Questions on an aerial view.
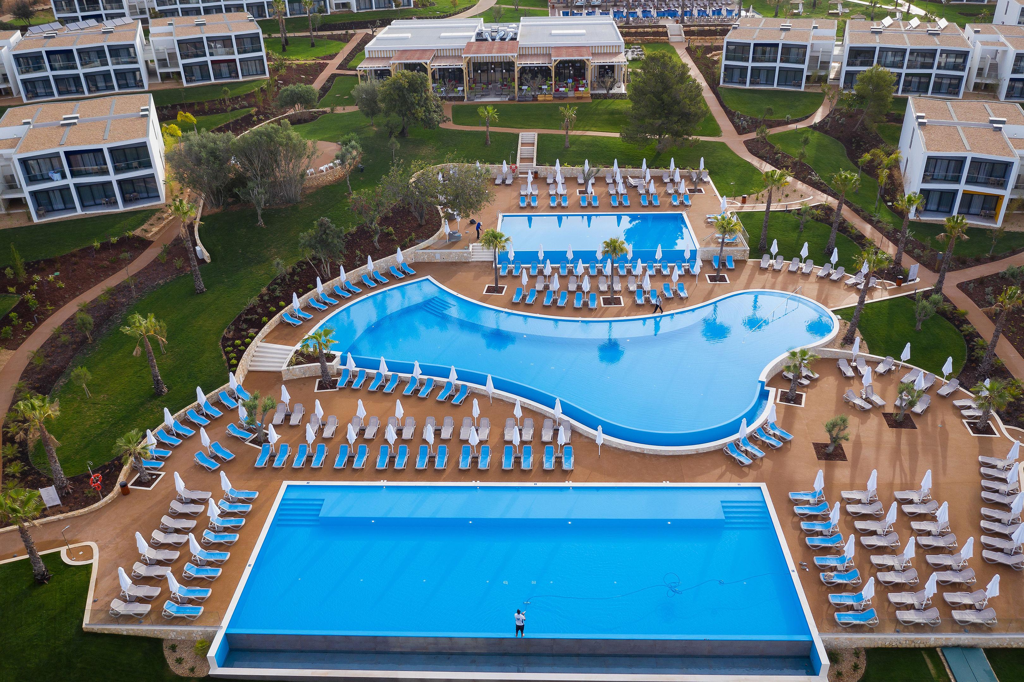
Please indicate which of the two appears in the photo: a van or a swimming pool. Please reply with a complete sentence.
There is a swimming pool in the scene.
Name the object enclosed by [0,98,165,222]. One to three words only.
building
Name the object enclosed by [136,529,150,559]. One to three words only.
umbrella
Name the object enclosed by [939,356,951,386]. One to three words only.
umbrella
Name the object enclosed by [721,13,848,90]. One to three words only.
building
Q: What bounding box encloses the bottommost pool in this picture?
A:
[224,485,815,643]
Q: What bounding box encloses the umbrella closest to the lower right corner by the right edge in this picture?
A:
[980,574,997,604]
